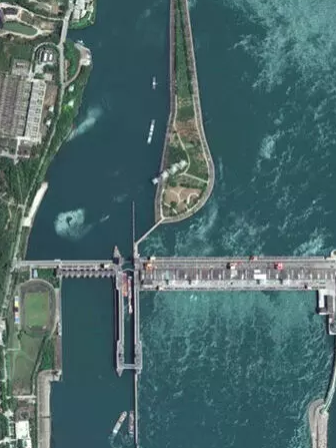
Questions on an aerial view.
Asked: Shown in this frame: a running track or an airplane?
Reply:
running track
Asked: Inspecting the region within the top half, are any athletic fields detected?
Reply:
No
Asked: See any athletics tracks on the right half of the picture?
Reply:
No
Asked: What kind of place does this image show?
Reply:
port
